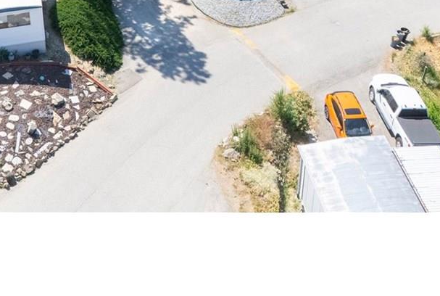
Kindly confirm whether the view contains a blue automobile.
No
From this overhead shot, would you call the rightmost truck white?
Yes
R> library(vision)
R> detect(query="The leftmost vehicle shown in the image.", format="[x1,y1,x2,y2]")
[323,82,379,147]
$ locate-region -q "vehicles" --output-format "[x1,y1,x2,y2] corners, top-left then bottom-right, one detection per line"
[378,70,440,152]
[323,82,379,147]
